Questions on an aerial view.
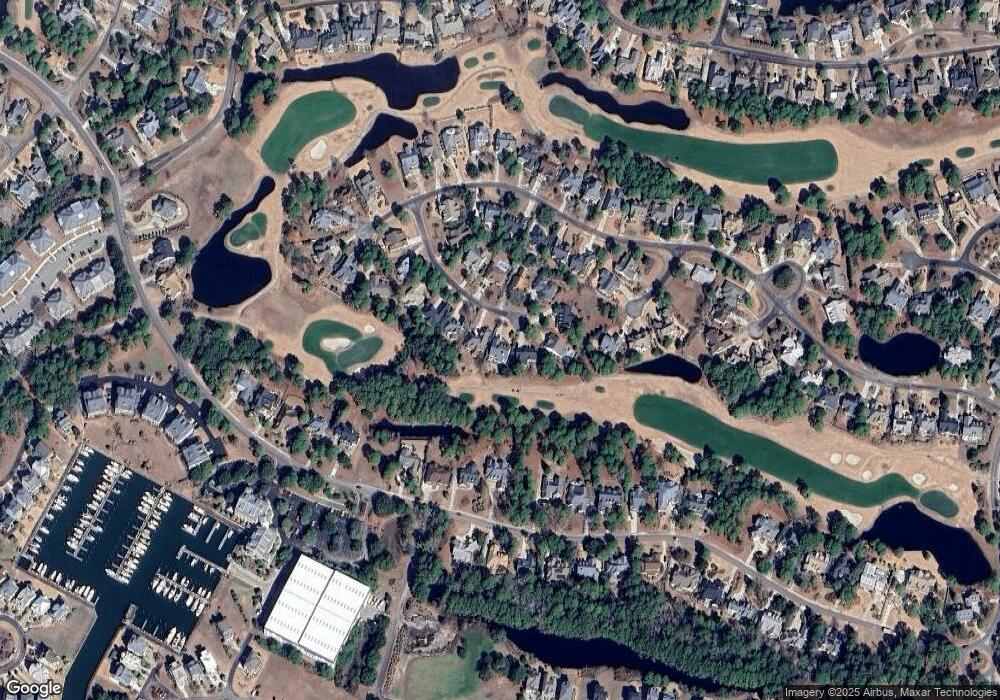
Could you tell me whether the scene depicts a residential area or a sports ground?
residential area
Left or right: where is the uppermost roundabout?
right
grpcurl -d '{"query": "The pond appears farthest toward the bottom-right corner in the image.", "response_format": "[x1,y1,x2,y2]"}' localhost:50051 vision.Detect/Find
[862,502,990,586]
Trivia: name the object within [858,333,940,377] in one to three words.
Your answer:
pond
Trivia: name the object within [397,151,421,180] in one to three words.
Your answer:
house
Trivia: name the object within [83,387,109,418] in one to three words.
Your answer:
building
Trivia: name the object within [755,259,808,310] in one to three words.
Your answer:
roundabout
